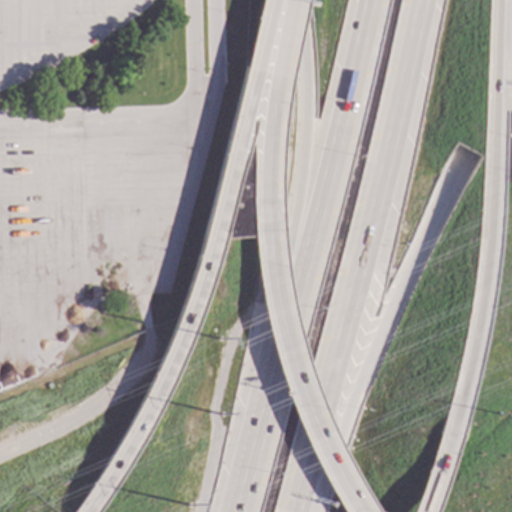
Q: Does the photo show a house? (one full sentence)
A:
No, there's no house here.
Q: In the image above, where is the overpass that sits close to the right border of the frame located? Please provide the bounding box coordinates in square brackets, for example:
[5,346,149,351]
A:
[418,0,512,512]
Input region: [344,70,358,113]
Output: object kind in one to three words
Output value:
vehicle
